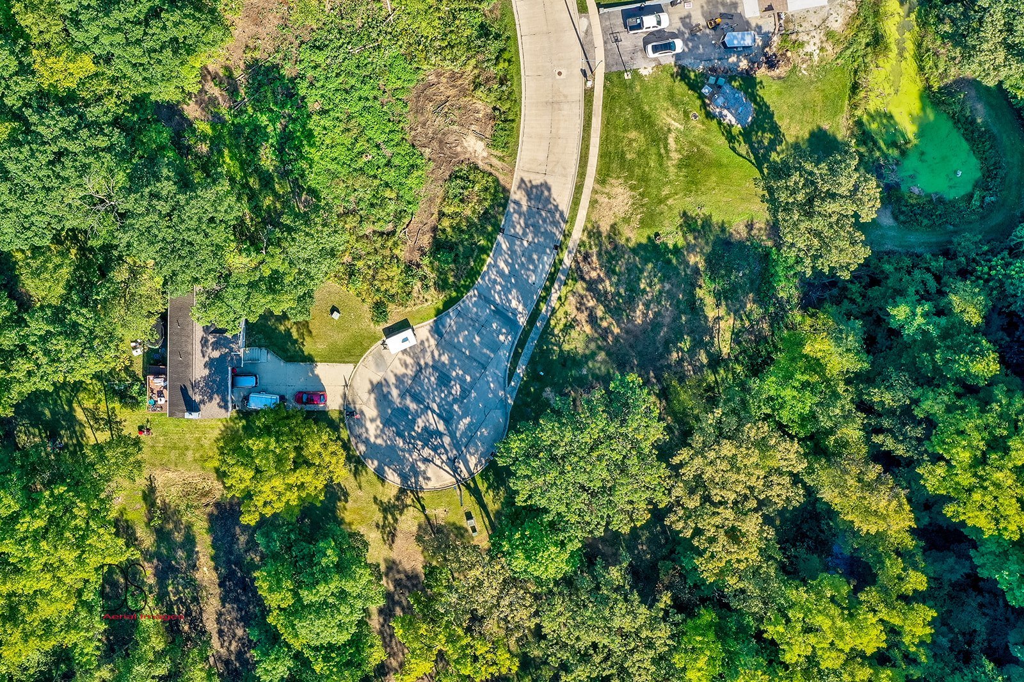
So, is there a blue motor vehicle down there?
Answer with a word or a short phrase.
Yes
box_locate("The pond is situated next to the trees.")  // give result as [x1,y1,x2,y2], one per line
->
[867,0,980,195]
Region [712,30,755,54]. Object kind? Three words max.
trailer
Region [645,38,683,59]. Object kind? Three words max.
car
